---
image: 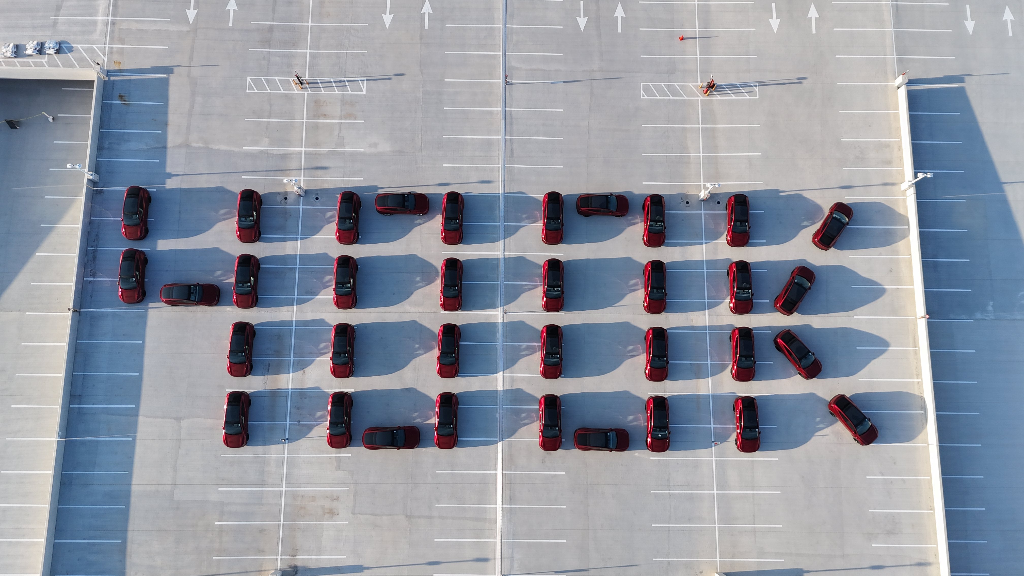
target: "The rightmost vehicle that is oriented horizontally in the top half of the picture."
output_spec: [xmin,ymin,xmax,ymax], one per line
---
[576,192,629,217]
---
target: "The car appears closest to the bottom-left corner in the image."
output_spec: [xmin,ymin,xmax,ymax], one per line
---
[220,391,251,448]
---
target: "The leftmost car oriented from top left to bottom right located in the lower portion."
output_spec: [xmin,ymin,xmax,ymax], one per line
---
[773,329,823,380]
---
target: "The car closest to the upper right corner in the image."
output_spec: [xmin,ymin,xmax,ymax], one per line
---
[811,201,855,251]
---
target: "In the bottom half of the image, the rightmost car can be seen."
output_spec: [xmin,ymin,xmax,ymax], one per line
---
[828,394,879,446]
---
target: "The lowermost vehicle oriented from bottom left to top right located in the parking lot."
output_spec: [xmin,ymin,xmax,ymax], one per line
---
[773,266,817,316]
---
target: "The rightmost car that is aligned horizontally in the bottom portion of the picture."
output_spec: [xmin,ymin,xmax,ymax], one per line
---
[574,427,629,453]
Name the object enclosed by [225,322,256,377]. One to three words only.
car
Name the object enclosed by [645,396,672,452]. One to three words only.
car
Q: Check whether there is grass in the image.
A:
No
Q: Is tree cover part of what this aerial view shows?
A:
No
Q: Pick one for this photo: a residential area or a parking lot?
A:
parking lot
